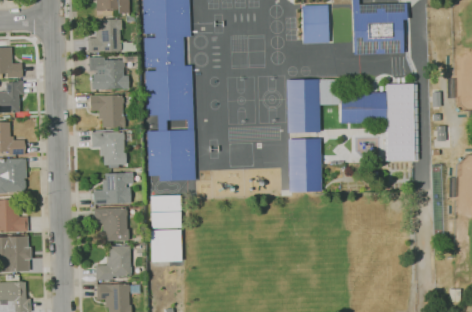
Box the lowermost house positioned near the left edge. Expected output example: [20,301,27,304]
[0,276,32,312]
